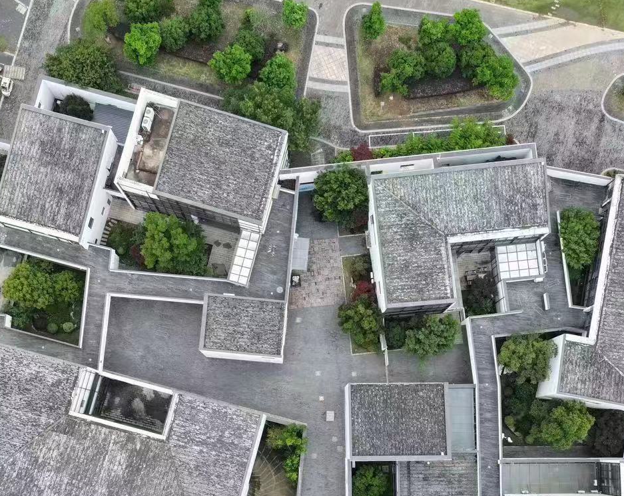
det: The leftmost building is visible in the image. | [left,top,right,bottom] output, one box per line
[0,103,118,249]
